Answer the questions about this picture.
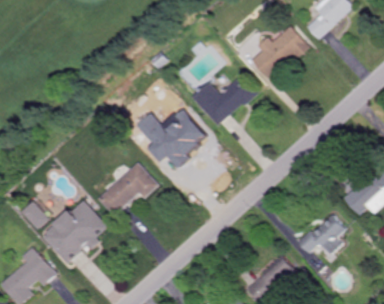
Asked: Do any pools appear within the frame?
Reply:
Yes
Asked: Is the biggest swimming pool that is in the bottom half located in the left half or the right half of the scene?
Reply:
left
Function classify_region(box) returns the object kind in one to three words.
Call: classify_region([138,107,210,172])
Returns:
house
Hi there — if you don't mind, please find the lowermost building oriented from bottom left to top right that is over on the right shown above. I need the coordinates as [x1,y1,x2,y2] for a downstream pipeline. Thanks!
[248,255,299,301]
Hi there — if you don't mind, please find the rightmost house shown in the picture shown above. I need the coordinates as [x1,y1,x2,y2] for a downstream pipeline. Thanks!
[344,172,384,218]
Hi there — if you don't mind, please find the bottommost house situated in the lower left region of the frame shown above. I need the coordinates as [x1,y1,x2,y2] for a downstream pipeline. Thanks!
[1,248,58,304]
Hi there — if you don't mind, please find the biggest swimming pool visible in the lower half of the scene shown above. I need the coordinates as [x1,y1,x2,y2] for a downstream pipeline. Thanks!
[38,170,84,219]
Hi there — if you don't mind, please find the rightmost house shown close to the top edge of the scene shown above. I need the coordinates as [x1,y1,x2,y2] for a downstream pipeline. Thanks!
[308,0,354,40]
